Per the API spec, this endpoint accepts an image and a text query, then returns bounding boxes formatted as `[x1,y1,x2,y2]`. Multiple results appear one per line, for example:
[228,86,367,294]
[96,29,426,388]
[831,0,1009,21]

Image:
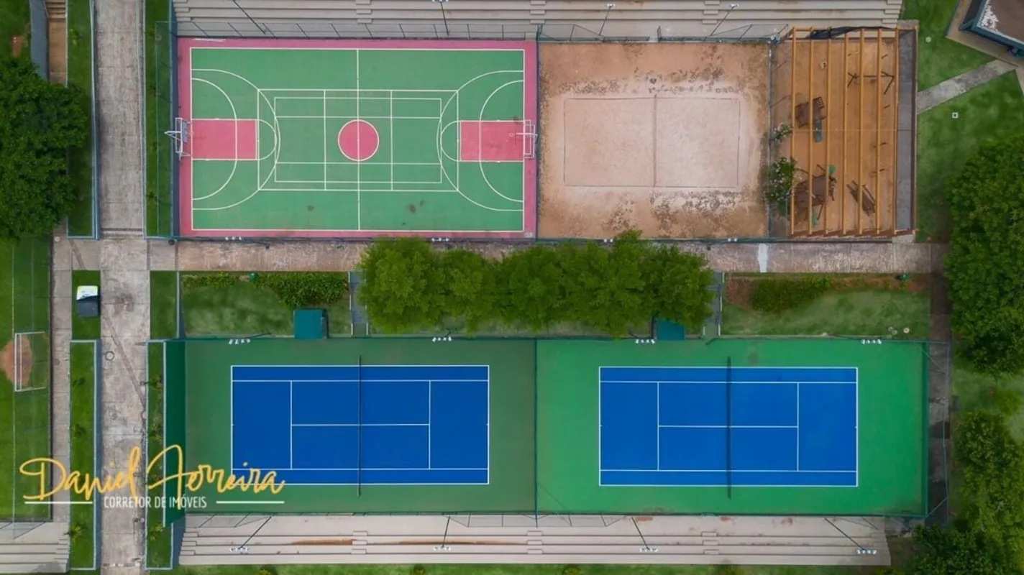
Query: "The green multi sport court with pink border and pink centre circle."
[178,38,537,237]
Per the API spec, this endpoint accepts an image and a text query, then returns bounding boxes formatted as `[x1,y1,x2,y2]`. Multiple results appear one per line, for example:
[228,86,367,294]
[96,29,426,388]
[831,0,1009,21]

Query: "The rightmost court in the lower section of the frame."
[538,340,926,516]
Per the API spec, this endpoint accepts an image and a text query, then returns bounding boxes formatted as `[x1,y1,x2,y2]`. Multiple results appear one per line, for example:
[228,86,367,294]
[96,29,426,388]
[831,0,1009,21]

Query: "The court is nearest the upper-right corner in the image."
[540,41,769,238]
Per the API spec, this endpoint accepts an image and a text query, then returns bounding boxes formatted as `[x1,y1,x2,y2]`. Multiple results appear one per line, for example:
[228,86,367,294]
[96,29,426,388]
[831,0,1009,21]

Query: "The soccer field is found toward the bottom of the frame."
[0,233,50,520]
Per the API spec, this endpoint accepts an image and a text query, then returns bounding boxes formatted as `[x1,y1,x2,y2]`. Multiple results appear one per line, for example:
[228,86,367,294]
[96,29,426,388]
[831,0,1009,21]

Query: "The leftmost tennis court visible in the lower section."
[185,339,536,513]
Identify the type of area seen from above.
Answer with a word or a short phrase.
sports ground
